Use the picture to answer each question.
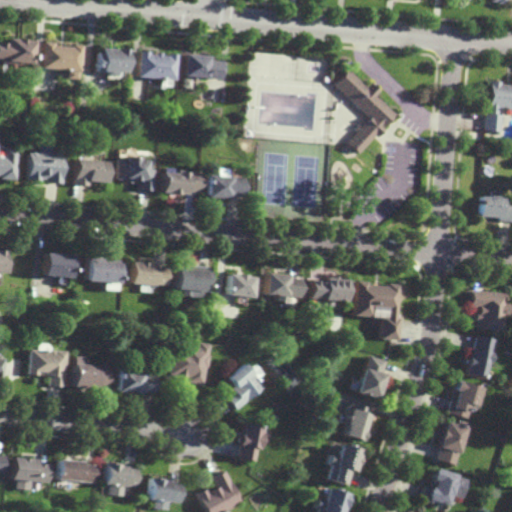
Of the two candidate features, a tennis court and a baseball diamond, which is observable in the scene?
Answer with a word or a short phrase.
tennis court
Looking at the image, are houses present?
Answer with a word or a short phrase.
Yes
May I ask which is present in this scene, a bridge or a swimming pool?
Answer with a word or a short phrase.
swimming pool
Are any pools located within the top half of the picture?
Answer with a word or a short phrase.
Yes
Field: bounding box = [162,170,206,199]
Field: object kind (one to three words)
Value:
house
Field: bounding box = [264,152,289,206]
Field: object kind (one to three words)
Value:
tennis court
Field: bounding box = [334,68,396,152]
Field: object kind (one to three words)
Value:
house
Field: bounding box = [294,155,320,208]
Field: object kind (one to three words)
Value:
tennis court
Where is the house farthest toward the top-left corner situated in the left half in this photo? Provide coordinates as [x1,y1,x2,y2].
[0,37,41,66]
